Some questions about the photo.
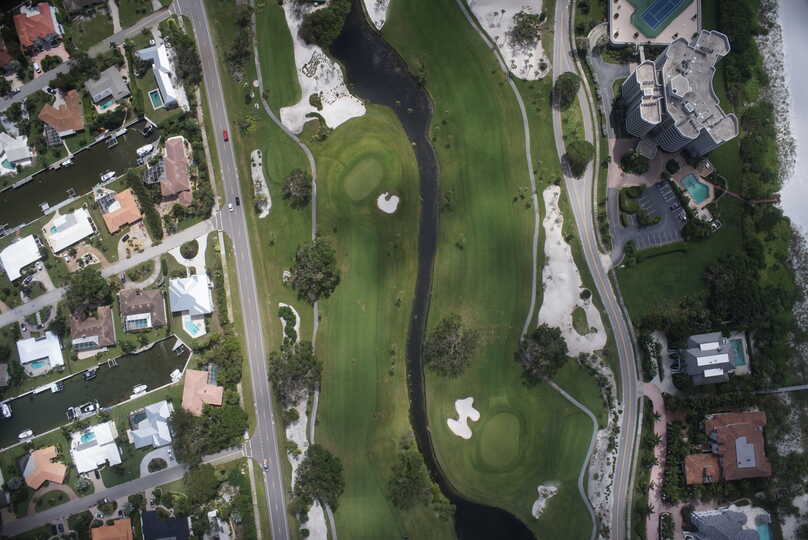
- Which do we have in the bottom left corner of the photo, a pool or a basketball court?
pool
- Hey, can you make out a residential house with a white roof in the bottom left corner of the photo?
Yes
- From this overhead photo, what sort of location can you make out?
golf course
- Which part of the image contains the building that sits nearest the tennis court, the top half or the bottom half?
top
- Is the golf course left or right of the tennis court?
to the left of it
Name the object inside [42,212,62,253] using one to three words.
swimming pool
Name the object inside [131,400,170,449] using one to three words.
house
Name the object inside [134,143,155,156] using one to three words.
boat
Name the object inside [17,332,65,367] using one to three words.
house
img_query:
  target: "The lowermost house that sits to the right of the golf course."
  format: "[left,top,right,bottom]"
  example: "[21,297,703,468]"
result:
[692,507,761,540]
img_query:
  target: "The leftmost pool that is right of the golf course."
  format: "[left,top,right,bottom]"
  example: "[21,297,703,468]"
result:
[672,170,713,208]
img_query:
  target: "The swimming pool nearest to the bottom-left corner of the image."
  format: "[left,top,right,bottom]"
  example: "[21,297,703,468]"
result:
[69,427,95,451]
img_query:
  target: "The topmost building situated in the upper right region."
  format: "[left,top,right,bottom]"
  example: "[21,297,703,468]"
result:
[623,28,739,159]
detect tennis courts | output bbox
[628,0,694,37]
